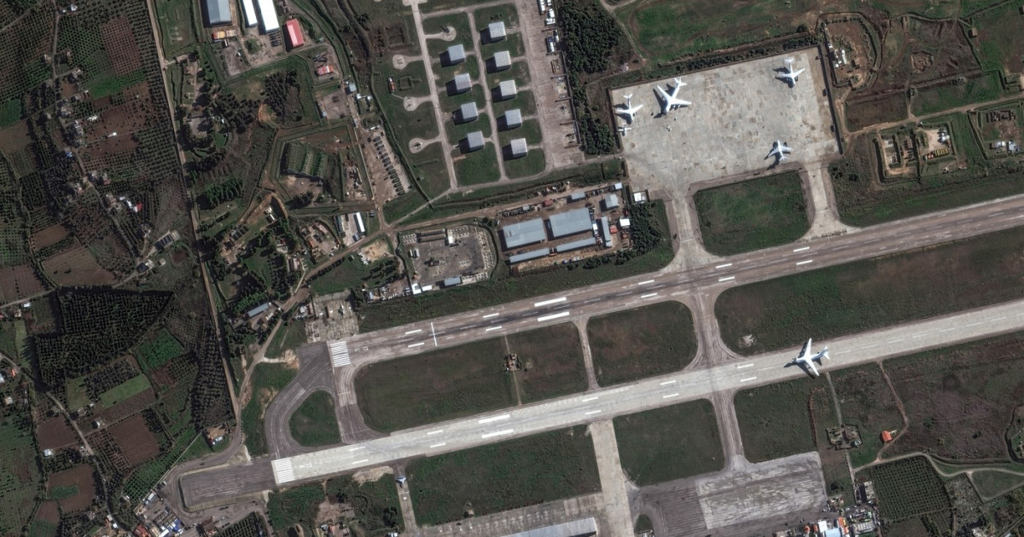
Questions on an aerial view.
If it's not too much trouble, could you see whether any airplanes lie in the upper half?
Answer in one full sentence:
Yes, an airplane can be seen in the upper half.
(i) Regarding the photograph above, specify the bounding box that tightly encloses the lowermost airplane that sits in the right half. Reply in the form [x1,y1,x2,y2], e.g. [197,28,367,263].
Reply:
[794,337,830,374]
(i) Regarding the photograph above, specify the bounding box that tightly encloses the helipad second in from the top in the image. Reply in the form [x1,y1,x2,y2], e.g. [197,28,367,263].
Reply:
[393,55,425,68]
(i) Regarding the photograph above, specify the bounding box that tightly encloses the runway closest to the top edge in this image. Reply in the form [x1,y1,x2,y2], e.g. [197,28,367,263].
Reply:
[327,196,1024,371]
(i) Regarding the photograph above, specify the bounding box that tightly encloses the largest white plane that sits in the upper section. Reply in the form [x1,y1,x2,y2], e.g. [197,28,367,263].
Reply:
[657,78,692,115]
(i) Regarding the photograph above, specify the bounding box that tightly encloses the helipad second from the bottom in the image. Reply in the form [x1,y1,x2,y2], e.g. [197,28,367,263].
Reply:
[404,94,433,109]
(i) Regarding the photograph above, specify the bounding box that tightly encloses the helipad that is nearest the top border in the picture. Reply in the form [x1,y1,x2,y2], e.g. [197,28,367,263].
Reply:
[425,26,455,40]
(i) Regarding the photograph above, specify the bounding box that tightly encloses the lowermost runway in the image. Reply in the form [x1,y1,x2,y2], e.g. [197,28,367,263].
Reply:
[271,299,1024,485]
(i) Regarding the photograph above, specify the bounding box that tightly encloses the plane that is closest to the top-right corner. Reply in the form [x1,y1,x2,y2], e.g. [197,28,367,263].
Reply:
[779,57,804,86]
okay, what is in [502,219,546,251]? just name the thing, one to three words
building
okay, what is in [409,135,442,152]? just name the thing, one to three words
helipad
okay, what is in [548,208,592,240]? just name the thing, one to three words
building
